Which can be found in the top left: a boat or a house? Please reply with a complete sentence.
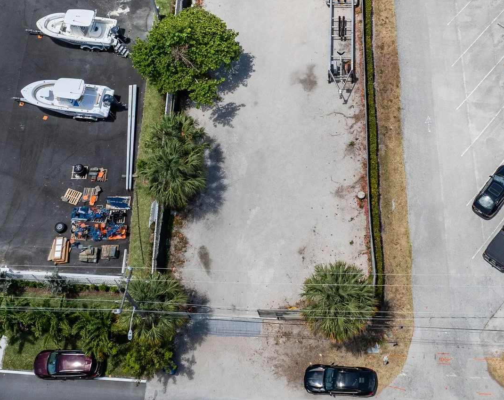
Looking in the top left, you will find a boat.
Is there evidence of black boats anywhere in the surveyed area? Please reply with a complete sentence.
No, the picture doesn't show any black boat.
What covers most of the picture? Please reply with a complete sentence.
The scene is dominated by paved ground.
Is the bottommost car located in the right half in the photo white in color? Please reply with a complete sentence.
No, from above the bottommost car located in the right half looks black.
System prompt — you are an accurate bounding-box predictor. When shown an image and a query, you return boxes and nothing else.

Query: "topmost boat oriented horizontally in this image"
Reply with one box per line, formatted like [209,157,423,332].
[37,10,124,49]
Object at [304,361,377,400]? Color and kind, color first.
black car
